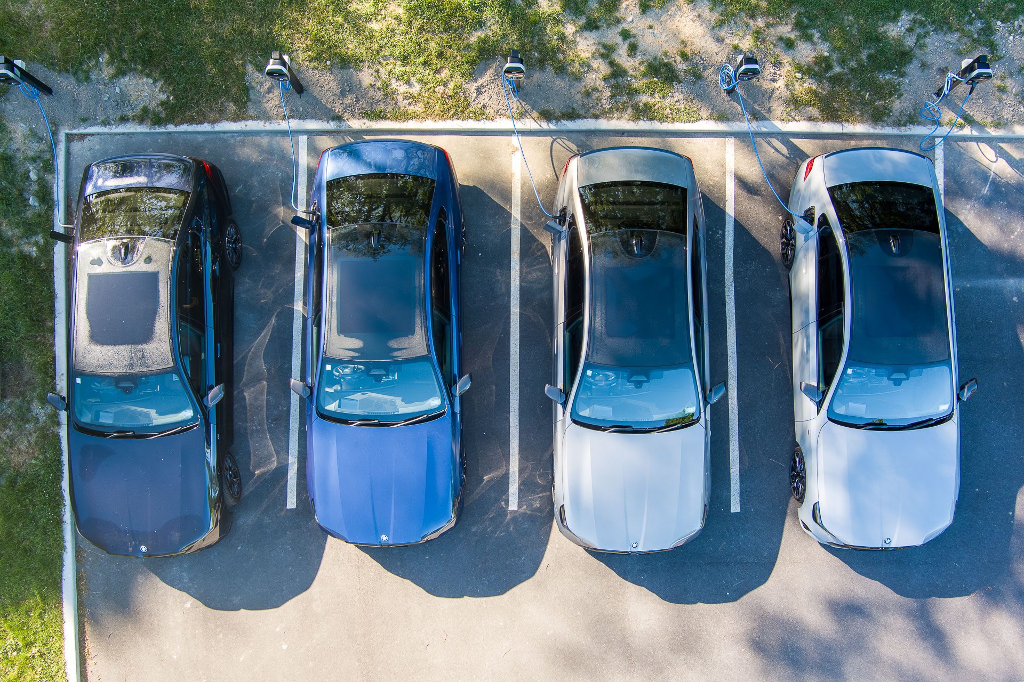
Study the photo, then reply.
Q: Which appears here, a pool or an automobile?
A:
automobile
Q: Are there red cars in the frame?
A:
No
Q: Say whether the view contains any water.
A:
No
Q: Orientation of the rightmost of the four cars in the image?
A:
vertically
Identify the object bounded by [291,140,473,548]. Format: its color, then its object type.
blue car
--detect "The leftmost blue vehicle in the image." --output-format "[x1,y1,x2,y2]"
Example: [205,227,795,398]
[47,151,244,558]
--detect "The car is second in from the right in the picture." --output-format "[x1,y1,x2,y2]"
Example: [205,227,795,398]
[538,145,726,555]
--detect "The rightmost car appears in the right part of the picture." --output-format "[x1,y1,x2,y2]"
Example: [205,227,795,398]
[778,141,981,551]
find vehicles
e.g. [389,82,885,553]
[47,151,244,558]
[538,145,726,555]
[778,141,981,551]
[291,140,473,548]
